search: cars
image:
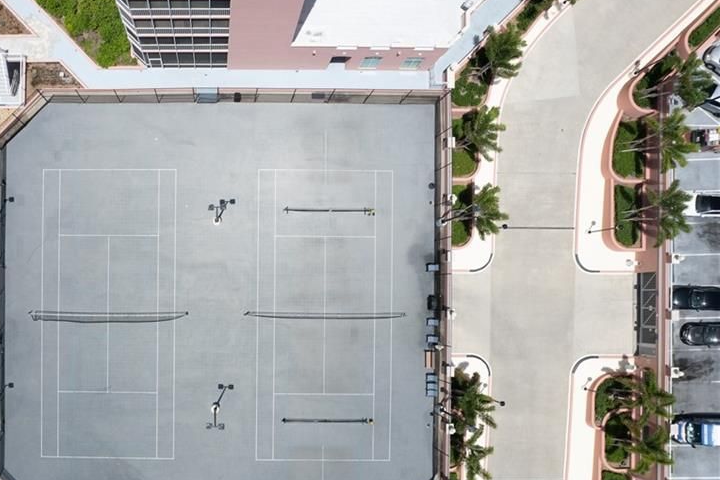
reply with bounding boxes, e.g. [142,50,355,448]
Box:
[678,320,720,346]
[674,419,720,446]
[674,285,720,311]
[698,43,720,78]
[682,190,720,217]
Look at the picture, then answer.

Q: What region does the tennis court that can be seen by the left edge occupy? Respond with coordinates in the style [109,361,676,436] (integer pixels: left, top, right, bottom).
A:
[0,102,216,480]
